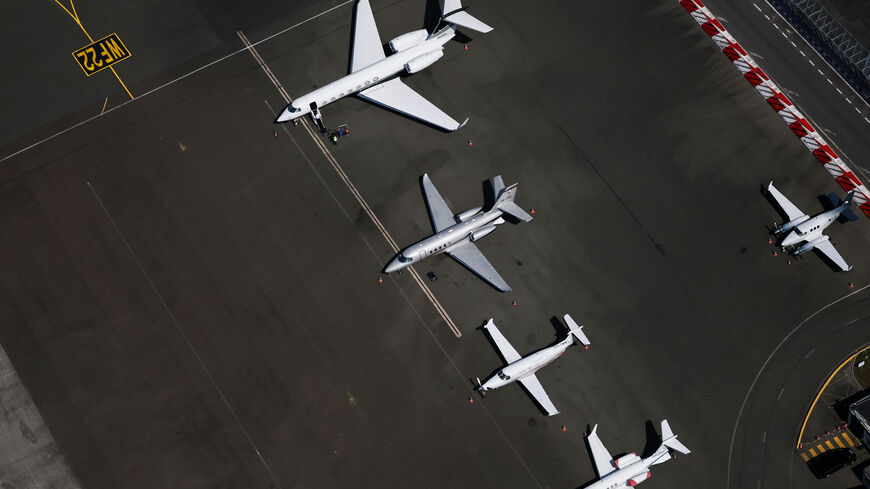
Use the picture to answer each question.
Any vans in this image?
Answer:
Yes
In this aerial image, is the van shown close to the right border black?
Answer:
Yes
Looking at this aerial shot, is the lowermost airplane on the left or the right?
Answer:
right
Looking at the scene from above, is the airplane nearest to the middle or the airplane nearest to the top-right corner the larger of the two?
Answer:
the airplane nearest to the middle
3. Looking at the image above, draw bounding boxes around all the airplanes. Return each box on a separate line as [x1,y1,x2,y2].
[768,182,858,271]
[476,314,590,414]
[386,174,534,292]
[583,419,691,489]
[278,0,494,134]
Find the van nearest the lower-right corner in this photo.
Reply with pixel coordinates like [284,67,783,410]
[809,447,856,481]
